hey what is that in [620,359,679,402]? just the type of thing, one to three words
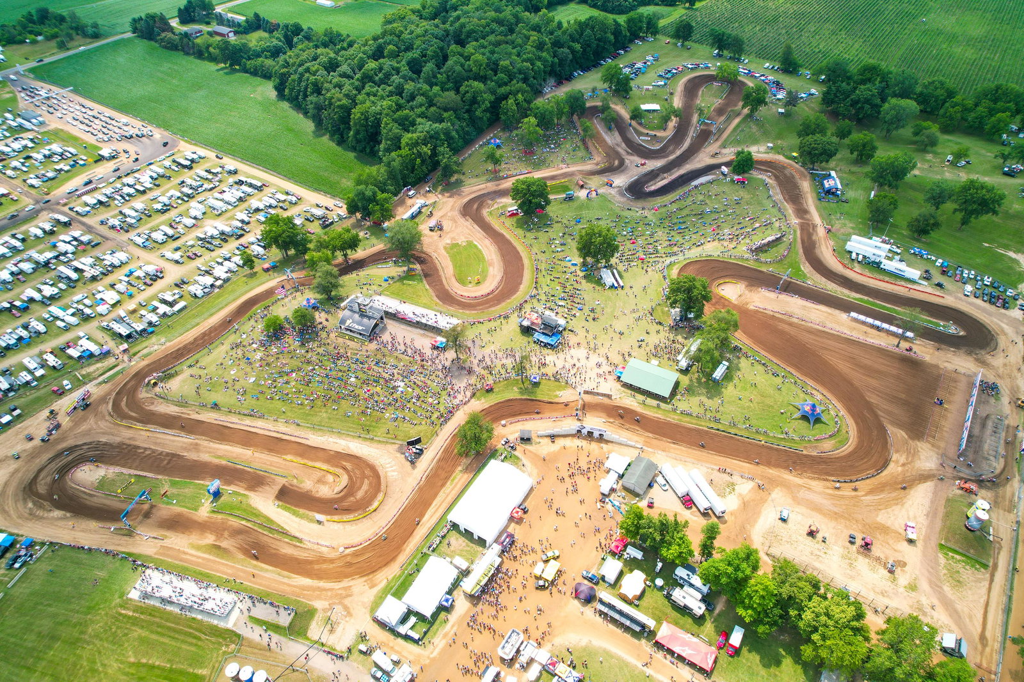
building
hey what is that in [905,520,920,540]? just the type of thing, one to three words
vehicle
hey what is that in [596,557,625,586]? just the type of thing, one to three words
tent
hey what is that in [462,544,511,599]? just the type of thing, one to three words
trailer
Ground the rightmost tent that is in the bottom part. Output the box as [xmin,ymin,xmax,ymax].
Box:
[790,404,831,433]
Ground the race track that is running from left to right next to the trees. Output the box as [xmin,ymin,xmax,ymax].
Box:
[28,70,995,580]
